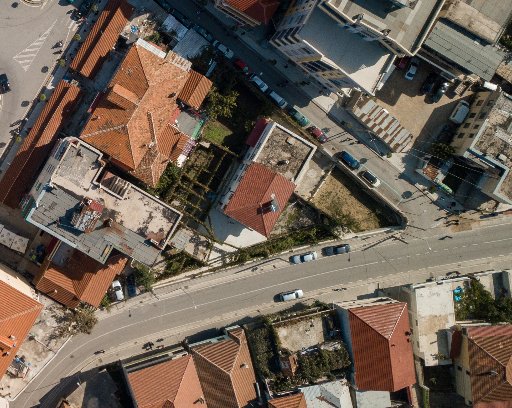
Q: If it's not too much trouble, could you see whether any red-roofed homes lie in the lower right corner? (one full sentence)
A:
Yes, looking in the lower right corner, one can make out a red-roofed home.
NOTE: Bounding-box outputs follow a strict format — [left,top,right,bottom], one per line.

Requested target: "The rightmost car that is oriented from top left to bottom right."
[358,169,381,188]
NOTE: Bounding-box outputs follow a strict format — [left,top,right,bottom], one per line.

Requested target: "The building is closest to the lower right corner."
[447,323,512,408]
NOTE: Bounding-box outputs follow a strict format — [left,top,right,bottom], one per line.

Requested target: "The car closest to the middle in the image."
[291,251,316,263]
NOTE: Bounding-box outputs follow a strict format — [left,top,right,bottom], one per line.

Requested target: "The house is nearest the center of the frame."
[216,122,317,237]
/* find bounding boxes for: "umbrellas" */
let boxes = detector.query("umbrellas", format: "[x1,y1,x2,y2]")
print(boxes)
[0,226,17,247]
[10,235,30,255]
